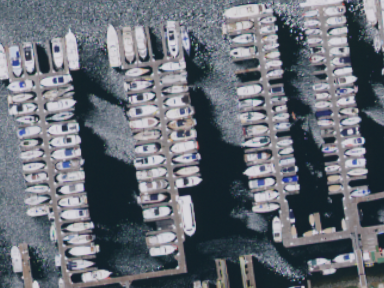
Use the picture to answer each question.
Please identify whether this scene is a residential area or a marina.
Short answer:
marina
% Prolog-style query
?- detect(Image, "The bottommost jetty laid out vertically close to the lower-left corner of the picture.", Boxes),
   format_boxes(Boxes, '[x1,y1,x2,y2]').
[18,243,31,288]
